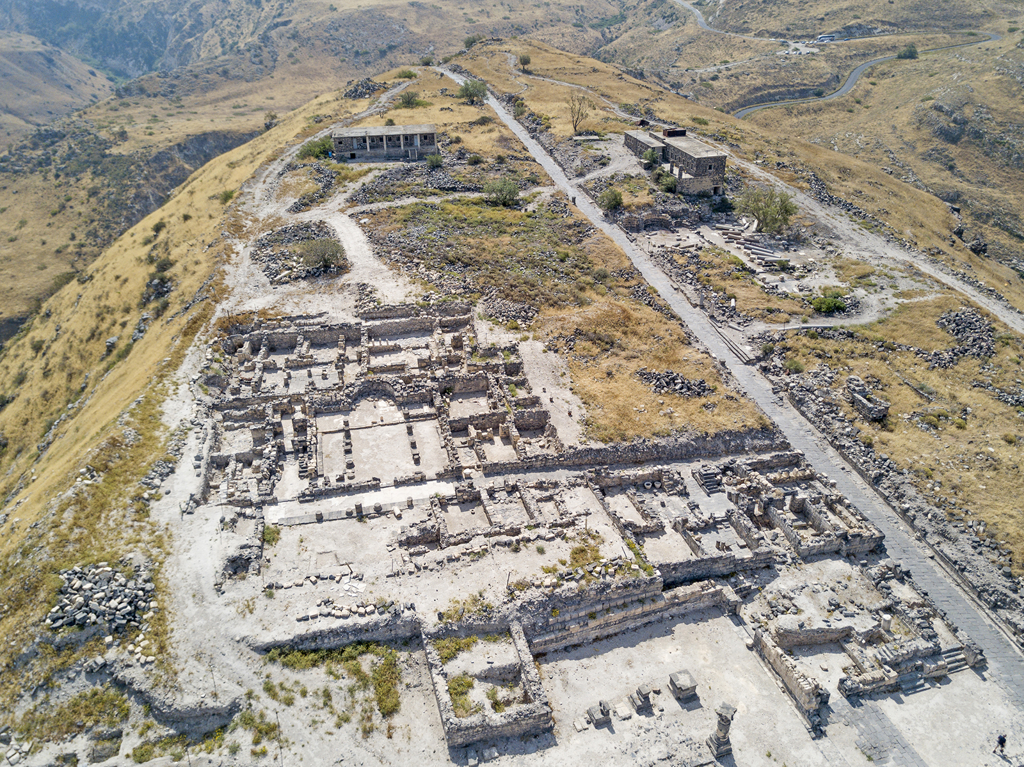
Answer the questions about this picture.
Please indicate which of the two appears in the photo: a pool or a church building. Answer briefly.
church building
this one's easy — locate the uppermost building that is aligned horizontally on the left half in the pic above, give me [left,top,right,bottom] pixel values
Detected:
[332,124,438,161]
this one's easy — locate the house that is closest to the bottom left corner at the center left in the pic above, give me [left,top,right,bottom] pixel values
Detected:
[210,400,315,511]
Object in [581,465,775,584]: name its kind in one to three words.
house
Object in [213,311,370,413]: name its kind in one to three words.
house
